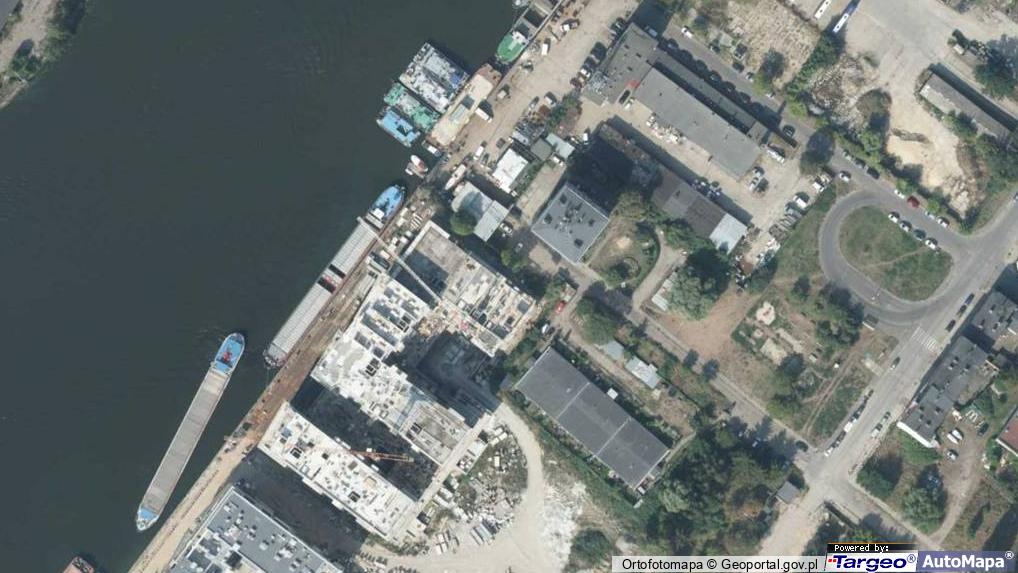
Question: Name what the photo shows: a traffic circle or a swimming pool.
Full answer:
Looking from above, you can make out a traffic circle.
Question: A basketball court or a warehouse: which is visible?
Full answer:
There is a warehouse in the scene.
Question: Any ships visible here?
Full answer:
Yes, the image includes a ship.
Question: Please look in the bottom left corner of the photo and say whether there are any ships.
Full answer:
Yes, in the bottom left corner of the photo there is a ship.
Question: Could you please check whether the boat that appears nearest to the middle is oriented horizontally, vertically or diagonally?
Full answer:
The boat that appears nearest to the middle is oriented diagonally.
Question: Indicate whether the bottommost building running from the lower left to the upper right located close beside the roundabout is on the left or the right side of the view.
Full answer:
The bottommost building running from the lower left to the upper right located close beside the roundabout appears in the right half of the scene.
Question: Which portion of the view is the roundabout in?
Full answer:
The roundabout is in the right part of the image.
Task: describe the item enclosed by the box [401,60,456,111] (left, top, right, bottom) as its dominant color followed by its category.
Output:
white boat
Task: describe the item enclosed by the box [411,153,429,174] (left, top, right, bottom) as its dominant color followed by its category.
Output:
white boat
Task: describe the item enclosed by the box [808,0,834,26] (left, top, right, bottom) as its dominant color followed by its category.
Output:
white bus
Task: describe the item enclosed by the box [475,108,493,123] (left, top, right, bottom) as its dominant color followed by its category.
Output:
white vehicle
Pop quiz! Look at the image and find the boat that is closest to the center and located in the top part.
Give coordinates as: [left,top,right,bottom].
[446,164,468,190]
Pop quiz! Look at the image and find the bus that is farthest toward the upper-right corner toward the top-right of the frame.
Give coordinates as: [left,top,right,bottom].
[831,0,862,32]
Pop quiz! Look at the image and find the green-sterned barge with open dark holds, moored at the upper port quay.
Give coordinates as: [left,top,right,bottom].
[496,0,563,60]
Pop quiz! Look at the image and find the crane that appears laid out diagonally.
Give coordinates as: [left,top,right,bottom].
[357,218,453,316]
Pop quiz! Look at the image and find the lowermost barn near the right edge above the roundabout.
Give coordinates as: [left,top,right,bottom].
[920,73,1018,154]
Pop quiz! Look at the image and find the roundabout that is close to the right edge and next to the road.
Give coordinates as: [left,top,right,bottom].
[821,187,974,326]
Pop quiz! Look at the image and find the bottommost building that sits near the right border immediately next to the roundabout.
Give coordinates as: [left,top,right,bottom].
[890,335,989,444]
